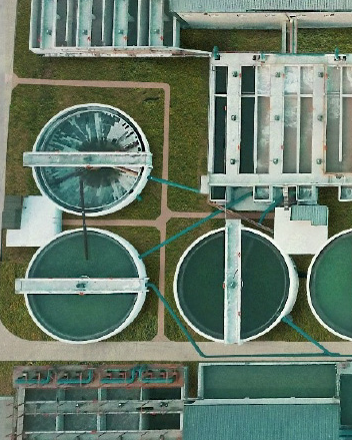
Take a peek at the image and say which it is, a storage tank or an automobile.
storage tank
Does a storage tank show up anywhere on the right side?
Yes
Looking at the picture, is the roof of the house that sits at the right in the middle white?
Yes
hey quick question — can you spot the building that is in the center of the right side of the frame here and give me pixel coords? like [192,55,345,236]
[275,205,331,254]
